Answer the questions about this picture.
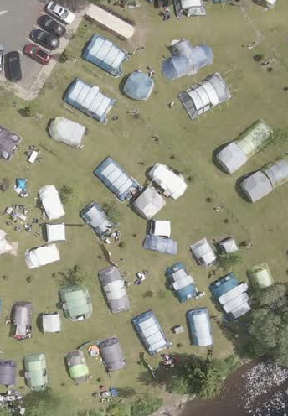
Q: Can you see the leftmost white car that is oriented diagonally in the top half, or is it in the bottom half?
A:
top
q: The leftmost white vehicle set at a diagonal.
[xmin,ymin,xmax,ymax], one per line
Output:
[47,2,76,26]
